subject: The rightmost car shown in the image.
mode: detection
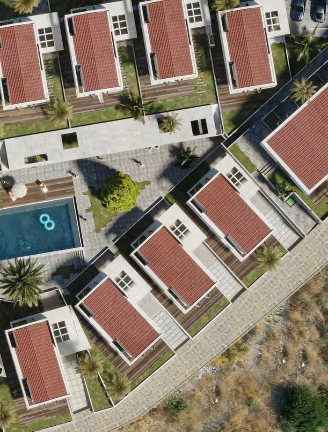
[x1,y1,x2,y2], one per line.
[310,0,327,24]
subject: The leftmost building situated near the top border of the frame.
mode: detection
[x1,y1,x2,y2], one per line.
[0,13,65,115]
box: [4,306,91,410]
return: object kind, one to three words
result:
house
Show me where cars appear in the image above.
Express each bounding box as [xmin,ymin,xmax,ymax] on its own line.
[291,0,307,22]
[310,0,327,24]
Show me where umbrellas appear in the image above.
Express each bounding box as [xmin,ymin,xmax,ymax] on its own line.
[12,182,27,198]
